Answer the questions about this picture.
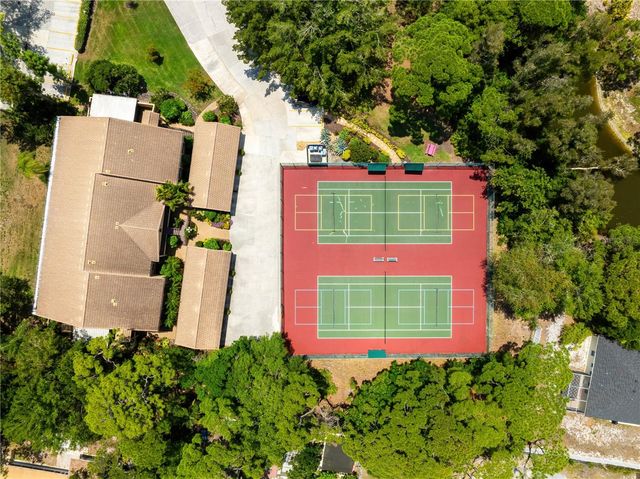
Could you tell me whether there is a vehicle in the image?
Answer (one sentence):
No, there is no vehicle in the image.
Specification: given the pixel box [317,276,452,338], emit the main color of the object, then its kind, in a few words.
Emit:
green tennis court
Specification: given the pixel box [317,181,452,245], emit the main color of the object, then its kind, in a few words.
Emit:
green tennis court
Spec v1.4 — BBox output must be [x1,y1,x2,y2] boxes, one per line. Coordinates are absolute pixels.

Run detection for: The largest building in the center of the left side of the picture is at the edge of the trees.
[31,117,184,331]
